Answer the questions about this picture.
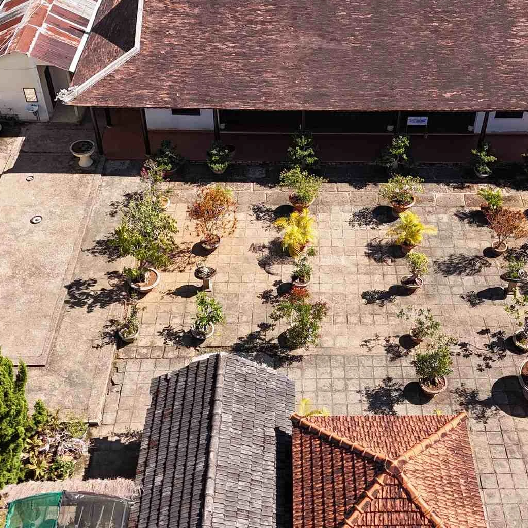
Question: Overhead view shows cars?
No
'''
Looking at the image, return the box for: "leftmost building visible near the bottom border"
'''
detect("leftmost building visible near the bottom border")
[122,352,296,528]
